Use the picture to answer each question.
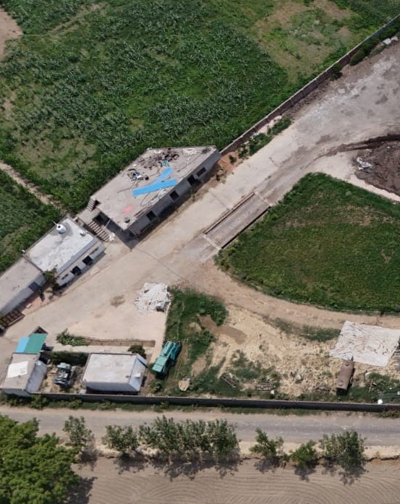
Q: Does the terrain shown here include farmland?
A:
Yes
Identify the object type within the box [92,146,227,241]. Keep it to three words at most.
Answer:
house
